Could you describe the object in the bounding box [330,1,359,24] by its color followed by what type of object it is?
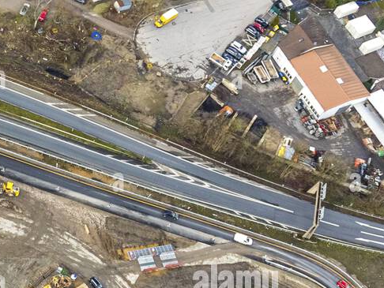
white tent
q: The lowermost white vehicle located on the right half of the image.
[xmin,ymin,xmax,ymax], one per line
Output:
[234,228,256,245]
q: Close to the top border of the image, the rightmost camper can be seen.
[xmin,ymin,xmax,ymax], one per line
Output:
[282,0,298,15]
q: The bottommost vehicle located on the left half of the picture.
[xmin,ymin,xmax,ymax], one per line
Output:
[90,274,106,288]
